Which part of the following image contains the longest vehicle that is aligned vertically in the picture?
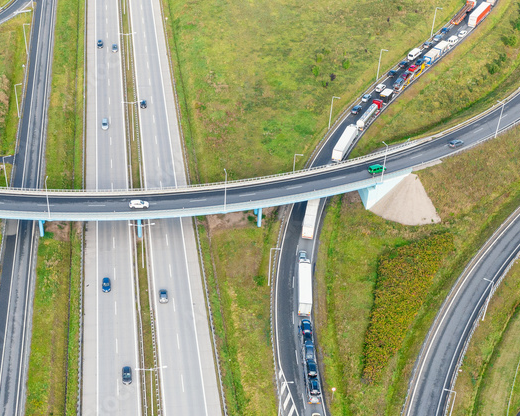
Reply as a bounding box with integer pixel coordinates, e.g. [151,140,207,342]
[298,323,323,407]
